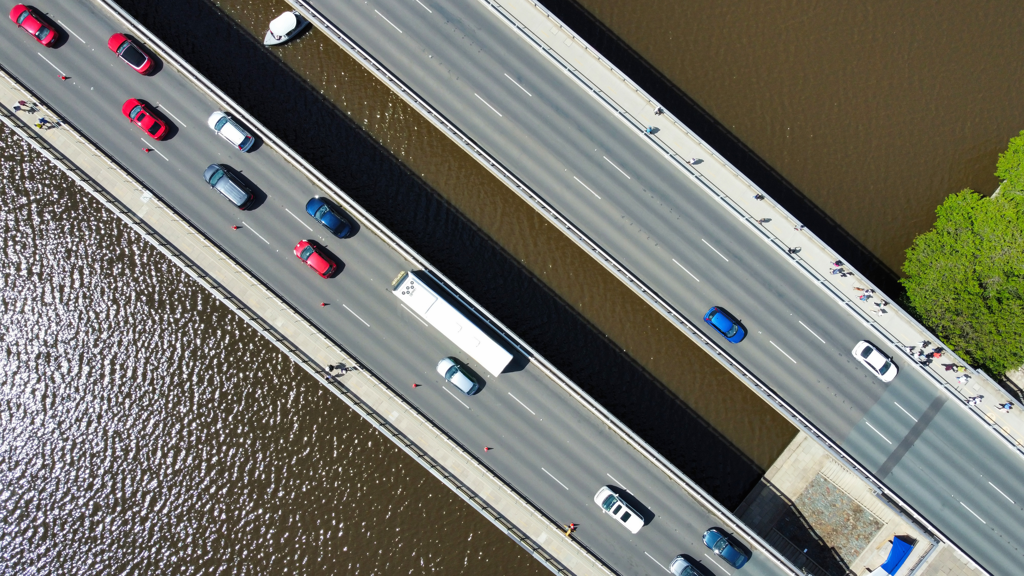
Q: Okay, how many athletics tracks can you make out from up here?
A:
none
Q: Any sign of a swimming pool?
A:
No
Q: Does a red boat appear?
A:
No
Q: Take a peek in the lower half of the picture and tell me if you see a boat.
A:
No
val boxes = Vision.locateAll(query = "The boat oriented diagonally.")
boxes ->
[265,12,313,51]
